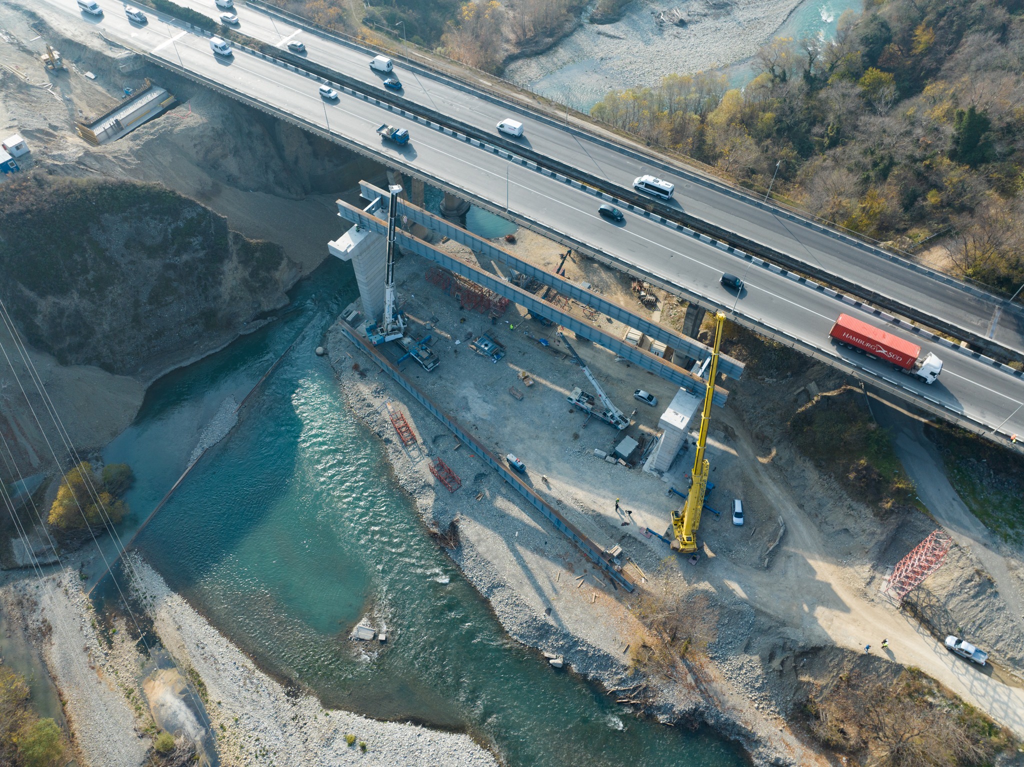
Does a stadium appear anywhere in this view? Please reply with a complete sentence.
No, I can see no stadium in this picture.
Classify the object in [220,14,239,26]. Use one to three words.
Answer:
vehicle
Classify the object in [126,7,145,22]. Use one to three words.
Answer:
car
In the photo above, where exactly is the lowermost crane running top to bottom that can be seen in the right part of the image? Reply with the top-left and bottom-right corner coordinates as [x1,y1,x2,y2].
[642,311,729,565]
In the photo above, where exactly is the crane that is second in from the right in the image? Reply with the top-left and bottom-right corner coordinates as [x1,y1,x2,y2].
[553,331,636,439]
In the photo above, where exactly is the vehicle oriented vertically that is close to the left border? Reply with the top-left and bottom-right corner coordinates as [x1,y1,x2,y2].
[40,34,61,75]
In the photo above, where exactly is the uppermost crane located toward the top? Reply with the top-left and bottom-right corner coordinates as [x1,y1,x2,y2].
[364,182,443,375]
